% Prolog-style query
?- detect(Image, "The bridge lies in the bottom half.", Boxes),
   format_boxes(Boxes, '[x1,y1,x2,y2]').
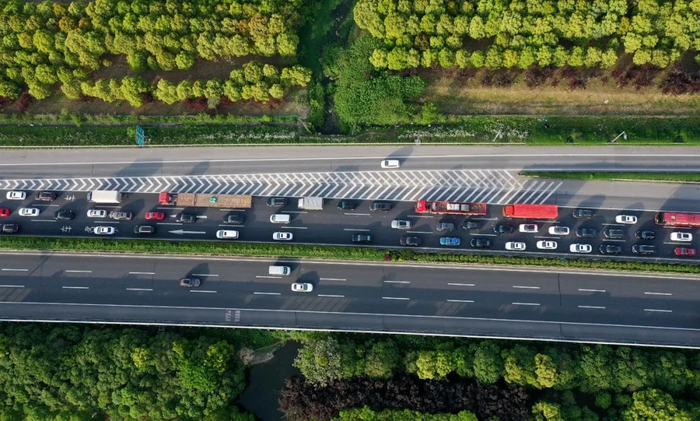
[0,251,700,350]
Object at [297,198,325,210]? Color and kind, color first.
white vehicle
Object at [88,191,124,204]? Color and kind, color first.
white vehicle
